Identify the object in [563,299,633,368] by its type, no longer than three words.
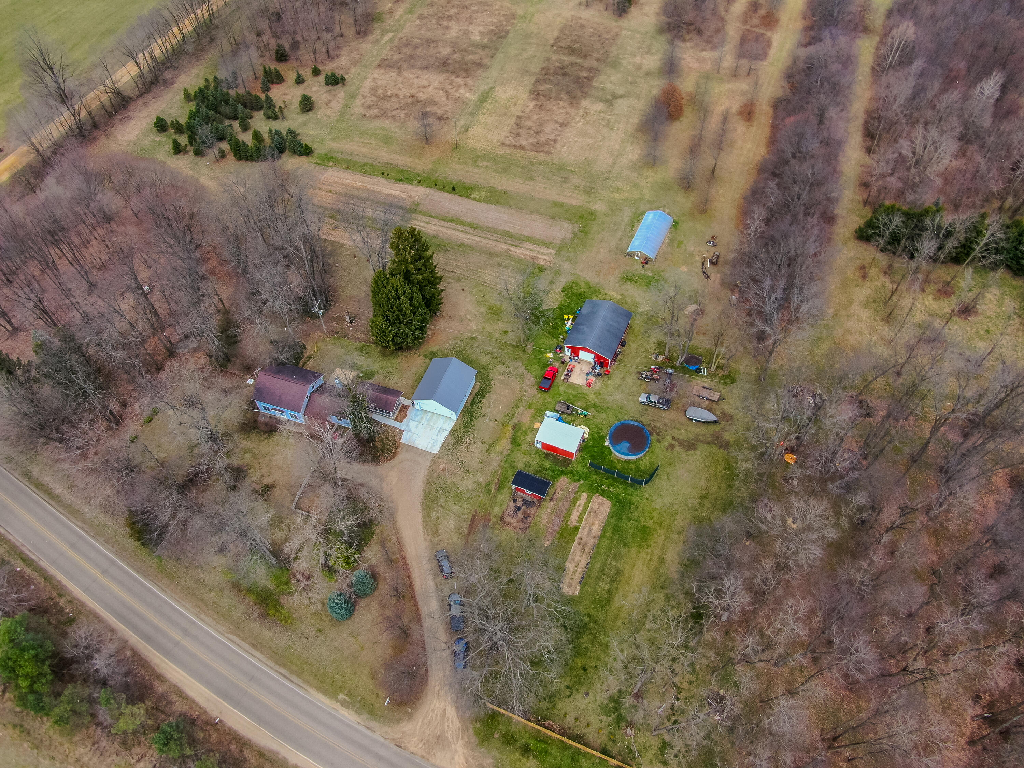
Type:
barn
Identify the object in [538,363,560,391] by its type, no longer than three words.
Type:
truck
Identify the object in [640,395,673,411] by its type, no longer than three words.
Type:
vehicle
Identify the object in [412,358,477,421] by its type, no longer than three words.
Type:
building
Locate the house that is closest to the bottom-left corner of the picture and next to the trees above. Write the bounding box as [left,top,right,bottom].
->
[252,361,403,440]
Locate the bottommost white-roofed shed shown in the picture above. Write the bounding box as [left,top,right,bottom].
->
[536,418,584,458]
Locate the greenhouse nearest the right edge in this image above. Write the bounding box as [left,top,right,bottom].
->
[626,211,672,265]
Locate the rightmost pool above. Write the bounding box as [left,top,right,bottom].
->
[608,420,651,460]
